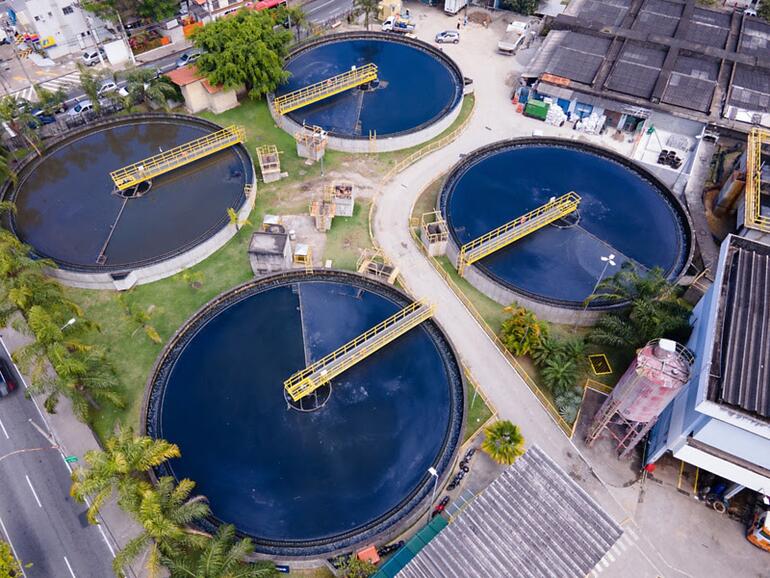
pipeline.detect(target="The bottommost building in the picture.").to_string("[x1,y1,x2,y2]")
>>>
[394,444,627,578]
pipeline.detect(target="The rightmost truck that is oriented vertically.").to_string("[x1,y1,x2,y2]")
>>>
[744,499,770,558]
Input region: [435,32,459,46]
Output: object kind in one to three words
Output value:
car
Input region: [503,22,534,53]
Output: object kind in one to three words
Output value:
truck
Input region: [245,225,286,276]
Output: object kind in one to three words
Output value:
building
